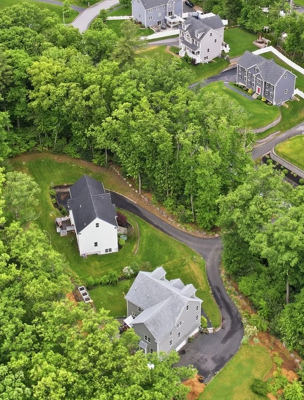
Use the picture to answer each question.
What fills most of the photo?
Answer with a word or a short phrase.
trees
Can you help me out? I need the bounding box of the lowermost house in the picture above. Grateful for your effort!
[123,266,206,368]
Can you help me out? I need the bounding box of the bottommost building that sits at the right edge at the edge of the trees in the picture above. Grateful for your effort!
[237,46,302,106]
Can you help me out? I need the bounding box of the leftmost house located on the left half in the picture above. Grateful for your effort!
[64,174,124,259]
